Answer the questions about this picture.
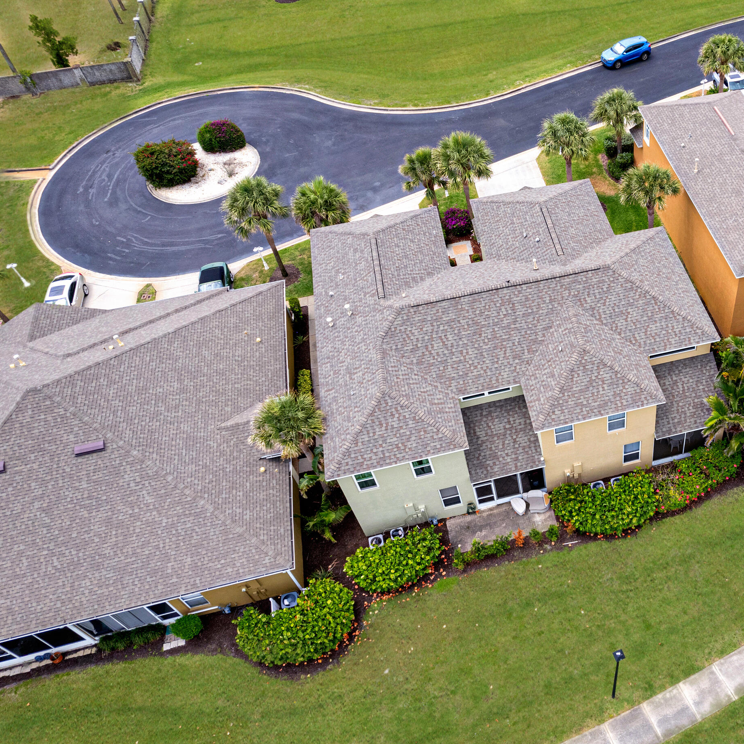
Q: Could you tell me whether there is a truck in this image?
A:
No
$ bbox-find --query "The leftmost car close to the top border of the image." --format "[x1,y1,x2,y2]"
[599,33,655,69]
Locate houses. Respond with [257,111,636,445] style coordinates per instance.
[308,176,733,536]
[0,277,314,665]
[627,88,744,336]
